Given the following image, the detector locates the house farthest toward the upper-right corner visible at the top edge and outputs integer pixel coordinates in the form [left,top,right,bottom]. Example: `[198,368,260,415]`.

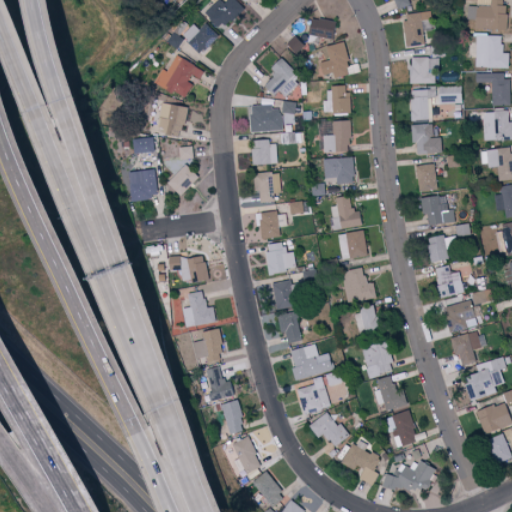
[468,0,508,32]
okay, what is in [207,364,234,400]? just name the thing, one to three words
house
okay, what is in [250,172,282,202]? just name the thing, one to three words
house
